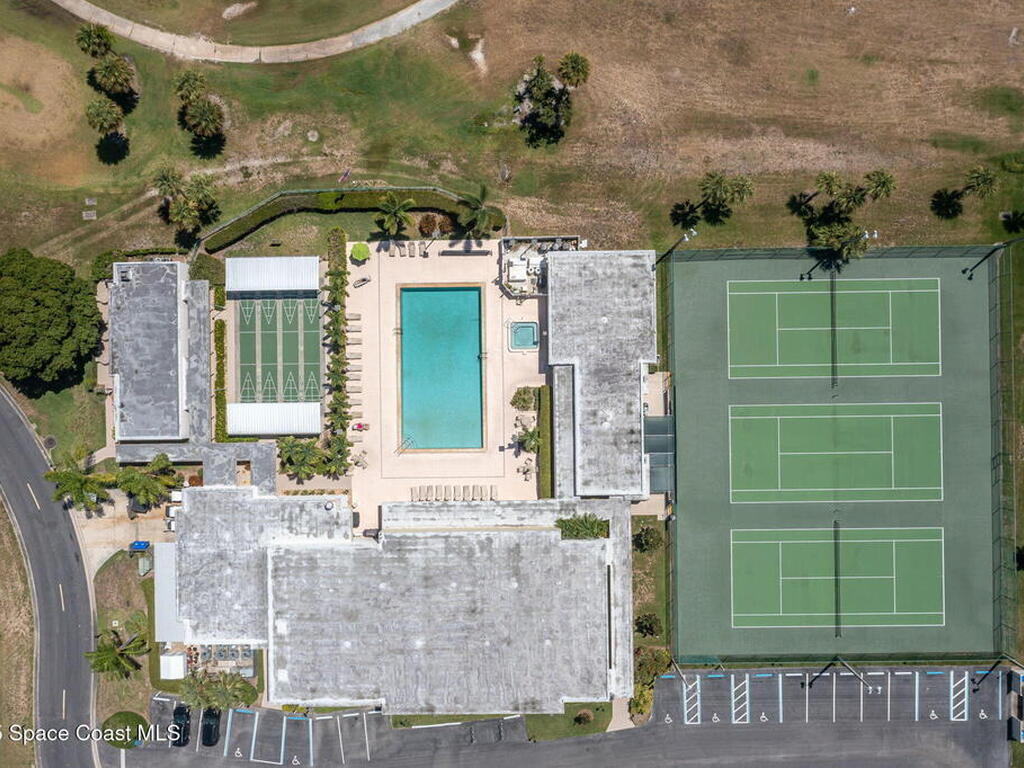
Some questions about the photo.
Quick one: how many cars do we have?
2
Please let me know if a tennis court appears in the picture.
Yes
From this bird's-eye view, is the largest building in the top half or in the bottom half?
bottom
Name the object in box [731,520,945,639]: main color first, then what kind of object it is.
green tennis court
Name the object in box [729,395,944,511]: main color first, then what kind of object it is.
green tennis court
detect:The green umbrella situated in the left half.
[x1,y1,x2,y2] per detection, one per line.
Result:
[351,243,370,262]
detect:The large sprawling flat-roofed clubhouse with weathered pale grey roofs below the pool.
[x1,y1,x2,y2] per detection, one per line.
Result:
[154,486,632,714]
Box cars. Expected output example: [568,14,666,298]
[170,707,192,748]
[199,708,221,748]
